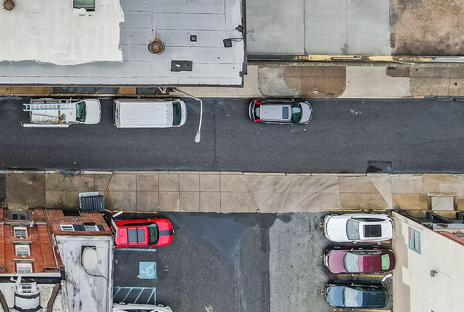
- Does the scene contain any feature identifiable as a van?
Yes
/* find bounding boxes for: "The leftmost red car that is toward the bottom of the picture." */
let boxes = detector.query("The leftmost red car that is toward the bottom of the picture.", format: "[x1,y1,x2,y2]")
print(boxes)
[111,218,173,253]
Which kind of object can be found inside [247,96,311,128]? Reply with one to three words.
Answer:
car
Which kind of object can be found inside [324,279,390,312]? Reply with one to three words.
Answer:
car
